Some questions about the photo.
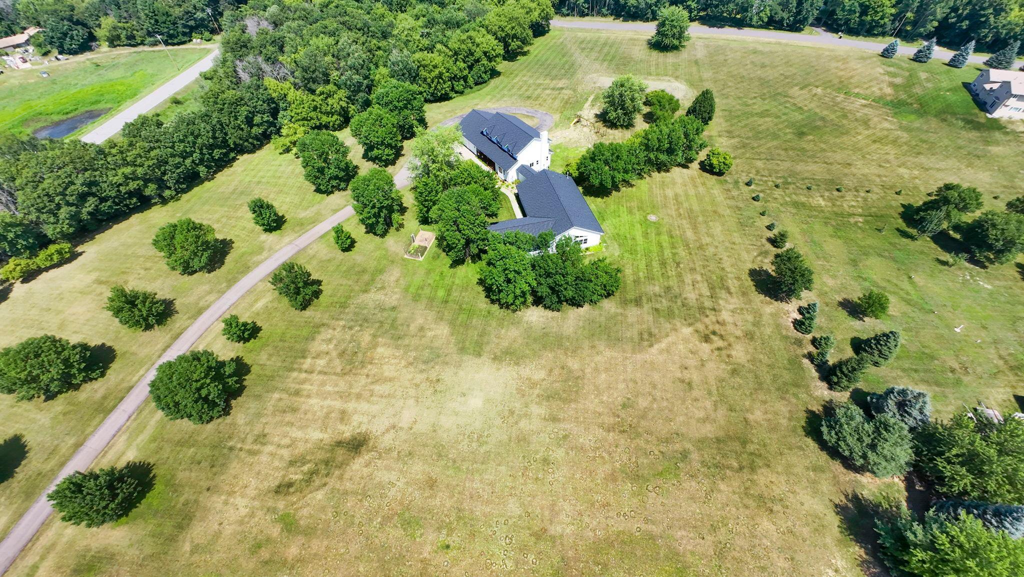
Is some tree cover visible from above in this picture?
Yes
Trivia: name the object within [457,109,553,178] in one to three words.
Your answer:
house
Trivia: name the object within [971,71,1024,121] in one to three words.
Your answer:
house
